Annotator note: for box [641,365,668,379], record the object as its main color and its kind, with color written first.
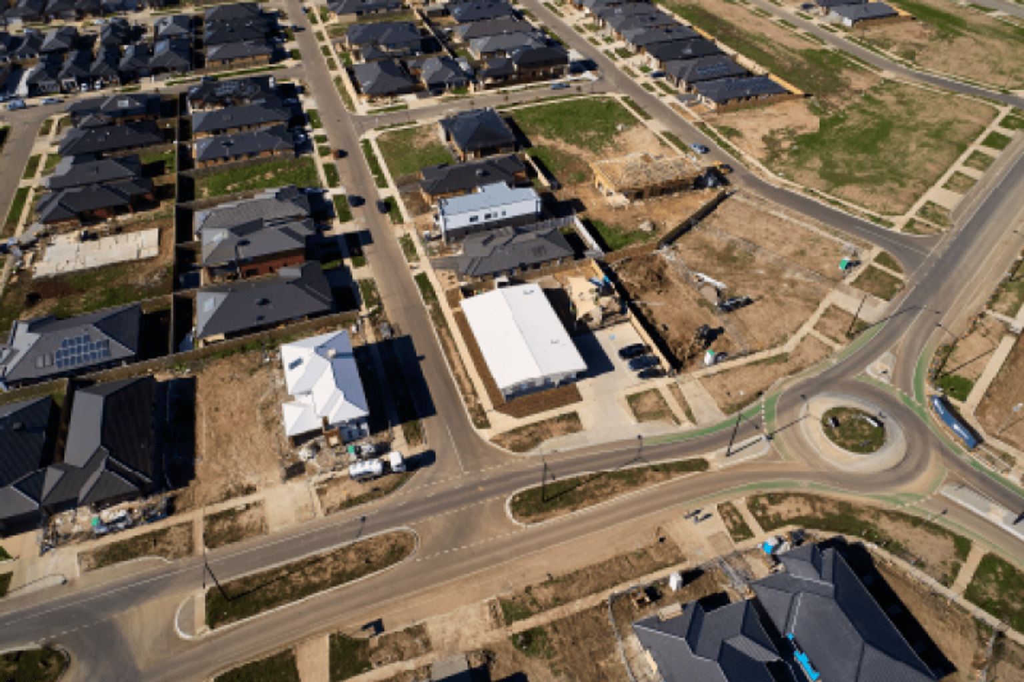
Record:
black car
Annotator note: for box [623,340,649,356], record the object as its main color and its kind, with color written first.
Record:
black car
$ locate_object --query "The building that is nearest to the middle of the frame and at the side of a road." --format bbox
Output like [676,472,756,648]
[453,281,587,402]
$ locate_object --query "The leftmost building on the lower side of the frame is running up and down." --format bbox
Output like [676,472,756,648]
[0,395,59,531]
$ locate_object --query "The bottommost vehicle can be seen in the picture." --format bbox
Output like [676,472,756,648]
[349,456,407,486]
